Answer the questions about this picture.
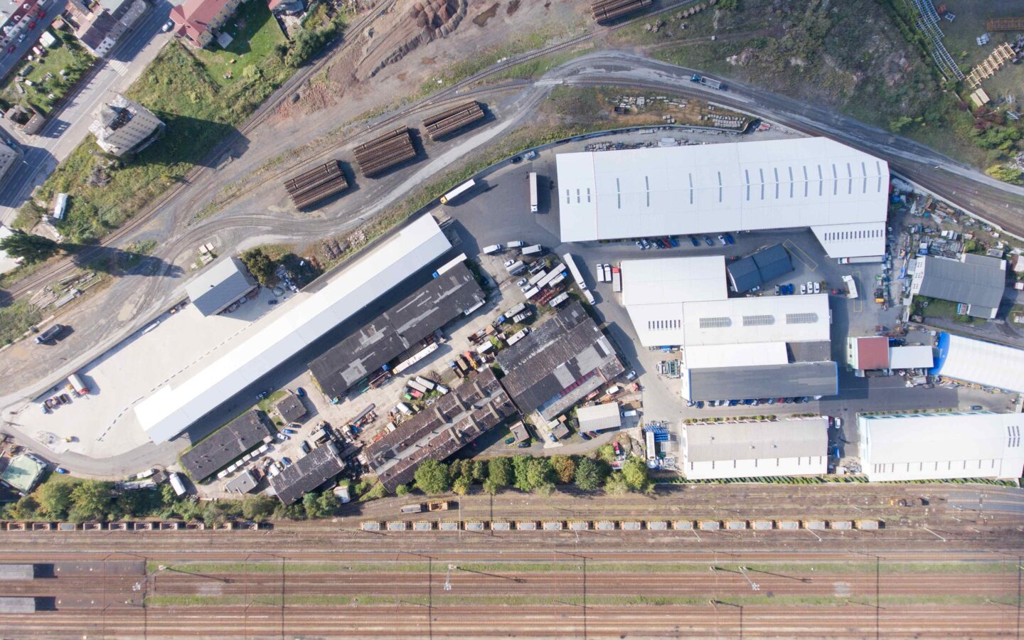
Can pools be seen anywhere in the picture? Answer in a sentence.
No, this view has no pool in it.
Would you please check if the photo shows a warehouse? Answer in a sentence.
Yes, looking at the shot, I can spot a warehouse.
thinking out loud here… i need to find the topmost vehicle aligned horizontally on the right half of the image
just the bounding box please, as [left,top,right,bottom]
[687,73,723,89]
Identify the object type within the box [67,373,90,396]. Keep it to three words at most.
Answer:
truck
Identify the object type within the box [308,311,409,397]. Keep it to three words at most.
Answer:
shed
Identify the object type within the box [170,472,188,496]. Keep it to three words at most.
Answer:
vehicle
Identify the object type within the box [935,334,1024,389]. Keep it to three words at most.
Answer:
building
